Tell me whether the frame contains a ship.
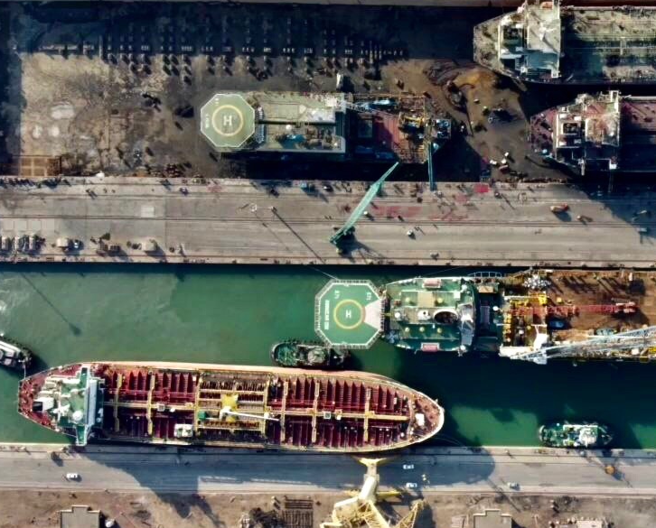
Yes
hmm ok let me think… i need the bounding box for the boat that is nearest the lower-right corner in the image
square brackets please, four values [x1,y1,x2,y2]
[540,420,614,449]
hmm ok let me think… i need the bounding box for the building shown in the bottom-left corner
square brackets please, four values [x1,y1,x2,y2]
[61,502,105,528]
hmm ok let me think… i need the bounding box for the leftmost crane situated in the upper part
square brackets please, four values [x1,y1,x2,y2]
[322,161,401,253]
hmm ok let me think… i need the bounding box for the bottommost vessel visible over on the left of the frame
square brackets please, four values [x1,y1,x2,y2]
[17,362,445,451]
